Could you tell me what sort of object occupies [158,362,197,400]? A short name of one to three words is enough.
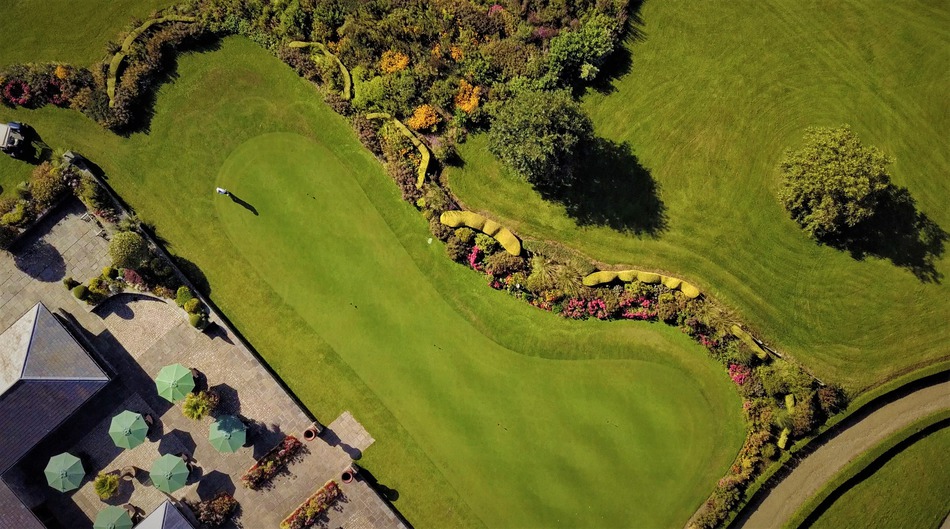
umbrella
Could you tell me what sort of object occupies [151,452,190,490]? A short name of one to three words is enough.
umbrella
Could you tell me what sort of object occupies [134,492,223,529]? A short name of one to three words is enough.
building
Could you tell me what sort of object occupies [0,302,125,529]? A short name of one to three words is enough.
building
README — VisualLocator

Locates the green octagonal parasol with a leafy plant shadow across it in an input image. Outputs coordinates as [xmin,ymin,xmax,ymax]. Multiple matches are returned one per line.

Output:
[211,415,250,453]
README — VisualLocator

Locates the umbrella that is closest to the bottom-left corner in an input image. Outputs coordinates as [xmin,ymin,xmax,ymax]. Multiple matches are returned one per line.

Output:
[49,453,91,489]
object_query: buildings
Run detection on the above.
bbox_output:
[134,492,223,529]
[0,302,125,529]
